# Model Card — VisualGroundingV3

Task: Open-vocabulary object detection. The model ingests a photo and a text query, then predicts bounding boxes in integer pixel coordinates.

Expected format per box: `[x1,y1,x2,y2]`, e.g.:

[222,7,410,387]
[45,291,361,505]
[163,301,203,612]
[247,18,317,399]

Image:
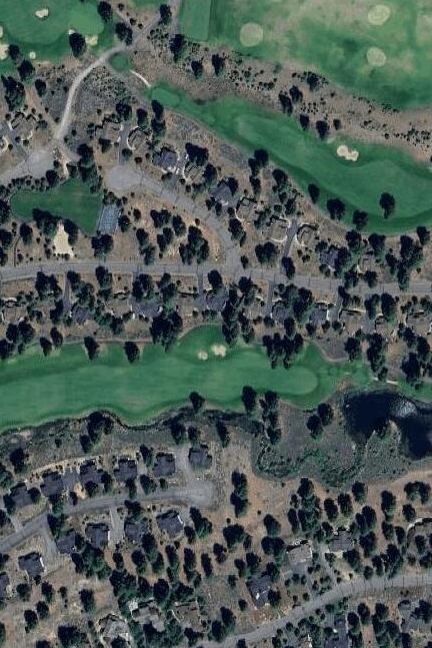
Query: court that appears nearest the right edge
[98,205,120,234]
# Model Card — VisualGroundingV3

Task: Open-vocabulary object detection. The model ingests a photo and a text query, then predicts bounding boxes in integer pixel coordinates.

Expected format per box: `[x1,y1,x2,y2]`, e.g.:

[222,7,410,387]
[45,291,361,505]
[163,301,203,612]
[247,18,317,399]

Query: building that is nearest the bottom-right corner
[397,611,423,636]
